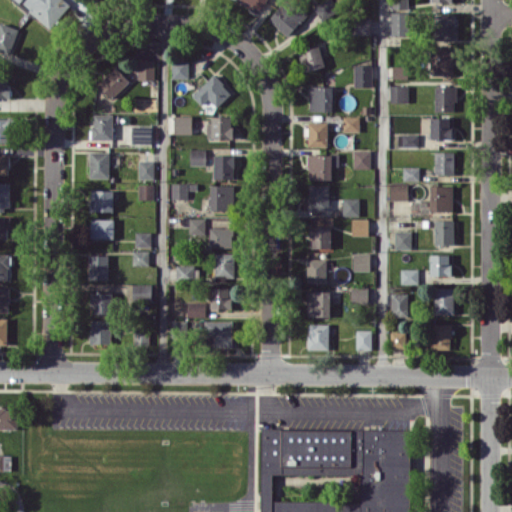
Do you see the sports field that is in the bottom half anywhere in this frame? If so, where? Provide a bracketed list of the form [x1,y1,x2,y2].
[26,431,248,512]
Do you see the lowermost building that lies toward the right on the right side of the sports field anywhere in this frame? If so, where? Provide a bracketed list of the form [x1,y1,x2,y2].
[262,431,410,512]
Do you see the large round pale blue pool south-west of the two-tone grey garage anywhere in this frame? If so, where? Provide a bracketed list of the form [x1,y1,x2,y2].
[340,94,358,112]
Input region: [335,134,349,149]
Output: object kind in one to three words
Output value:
swimming pool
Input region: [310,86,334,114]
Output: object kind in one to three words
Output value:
house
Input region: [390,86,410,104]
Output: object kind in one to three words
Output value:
building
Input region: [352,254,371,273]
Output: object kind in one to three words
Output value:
building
